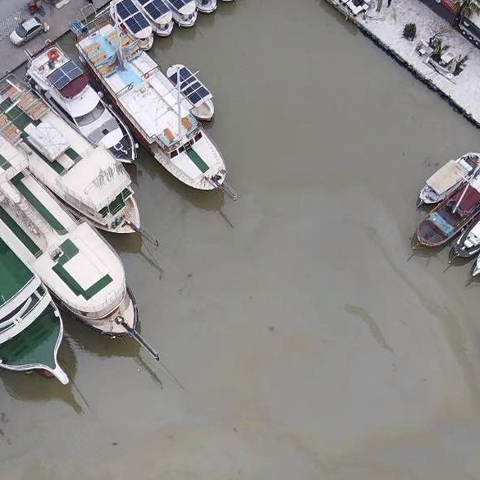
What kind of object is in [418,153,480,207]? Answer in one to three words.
boat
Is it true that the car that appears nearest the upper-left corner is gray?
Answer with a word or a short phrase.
Yes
